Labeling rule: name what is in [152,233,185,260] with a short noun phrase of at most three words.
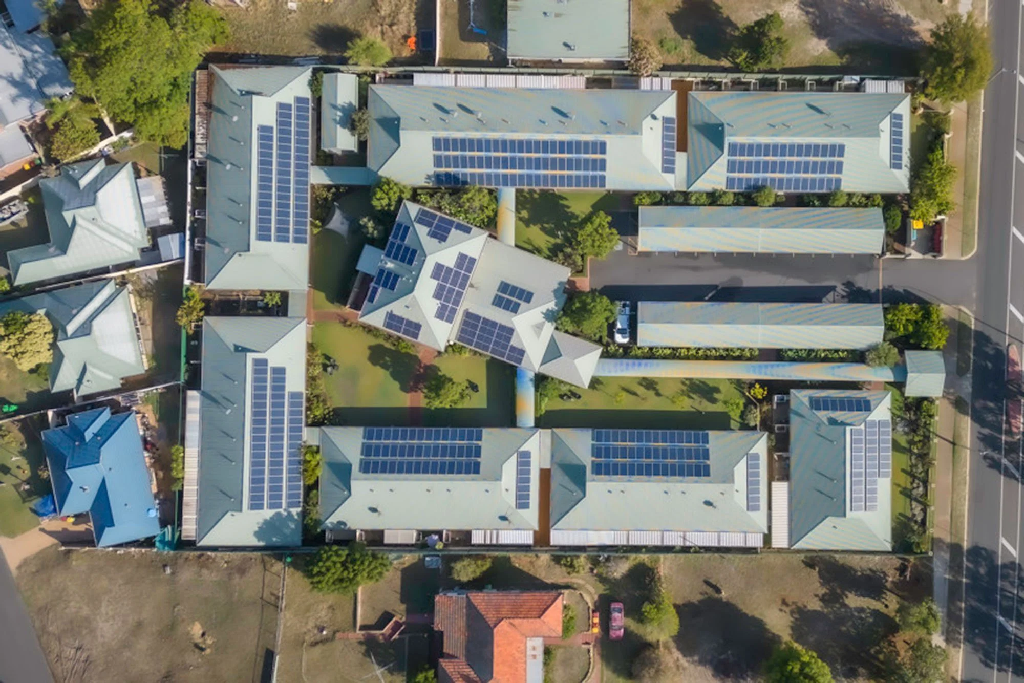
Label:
shed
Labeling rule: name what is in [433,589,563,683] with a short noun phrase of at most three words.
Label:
house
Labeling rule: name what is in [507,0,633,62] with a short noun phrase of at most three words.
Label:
house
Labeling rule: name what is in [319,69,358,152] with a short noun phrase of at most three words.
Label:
shed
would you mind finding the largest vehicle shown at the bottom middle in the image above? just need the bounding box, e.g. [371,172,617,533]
[609,602,626,640]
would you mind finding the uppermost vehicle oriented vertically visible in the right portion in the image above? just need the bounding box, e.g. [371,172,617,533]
[614,301,632,343]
